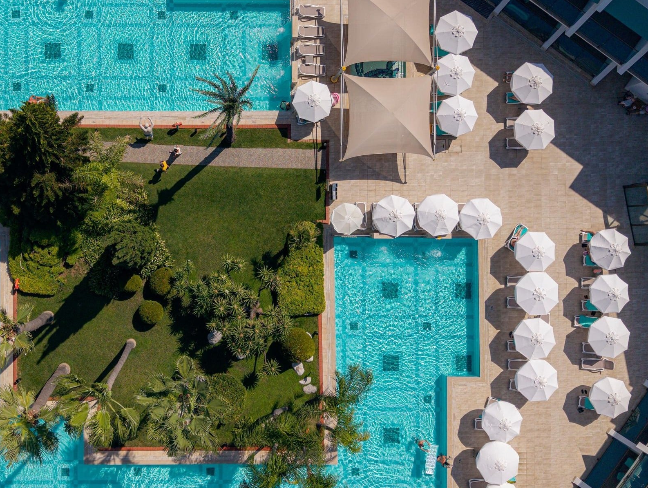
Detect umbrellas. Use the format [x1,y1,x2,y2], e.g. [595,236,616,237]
[586,313,631,358]
[510,317,556,361]
[511,358,557,402]
[586,272,630,315]
[291,79,333,123]
[431,55,473,96]
[586,375,631,419]
[515,271,558,313]
[480,401,524,443]
[458,197,503,242]
[510,230,556,273]
[587,230,631,271]
[416,193,460,237]
[331,203,364,235]
[475,441,519,485]
[437,11,479,56]
[511,109,555,152]
[511,63,554,107]
[435,93,478,138]
[371,193,416,238]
